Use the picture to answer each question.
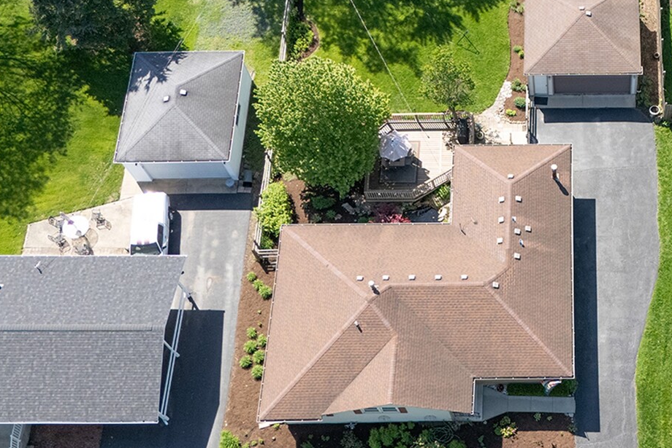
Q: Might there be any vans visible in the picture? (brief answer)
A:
Yes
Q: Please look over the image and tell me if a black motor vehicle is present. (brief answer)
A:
No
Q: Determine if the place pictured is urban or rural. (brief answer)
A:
urban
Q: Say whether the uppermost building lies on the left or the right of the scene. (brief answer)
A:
right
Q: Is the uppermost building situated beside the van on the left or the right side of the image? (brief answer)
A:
left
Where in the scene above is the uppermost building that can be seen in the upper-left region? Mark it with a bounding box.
[111,50,252,179]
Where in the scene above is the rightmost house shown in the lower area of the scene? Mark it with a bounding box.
[254,143,576,440]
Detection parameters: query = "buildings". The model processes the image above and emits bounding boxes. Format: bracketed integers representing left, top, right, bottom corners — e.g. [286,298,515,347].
[0,253,195,448]
[254,143,576,440]
[523,0,643,94]
[111,50,252,179]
